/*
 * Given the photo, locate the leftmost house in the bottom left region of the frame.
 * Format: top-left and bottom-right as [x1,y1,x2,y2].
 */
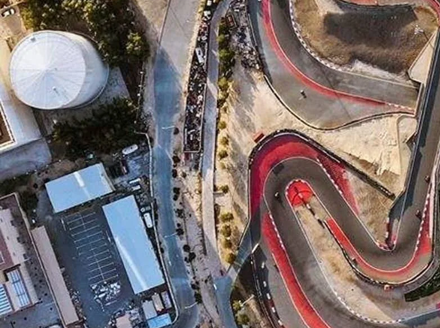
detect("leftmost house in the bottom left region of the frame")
[0,208,44,316]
